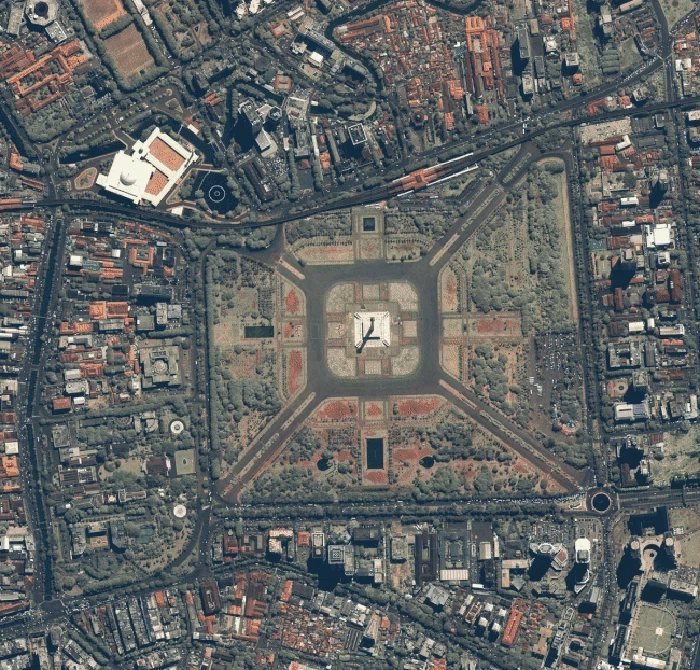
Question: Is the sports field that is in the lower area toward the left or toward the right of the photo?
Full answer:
You can find the sports field that is in the lower area on the right side of the picture.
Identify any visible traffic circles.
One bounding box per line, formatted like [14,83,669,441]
[582,483,619,520]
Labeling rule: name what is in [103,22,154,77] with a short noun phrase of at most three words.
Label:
sports field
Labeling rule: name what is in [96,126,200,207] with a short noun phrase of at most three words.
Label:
building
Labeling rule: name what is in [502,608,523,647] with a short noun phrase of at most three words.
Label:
building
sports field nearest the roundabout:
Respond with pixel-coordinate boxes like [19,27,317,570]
[628,602,676,654]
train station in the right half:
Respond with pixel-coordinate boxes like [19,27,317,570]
[381,152,481,200]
